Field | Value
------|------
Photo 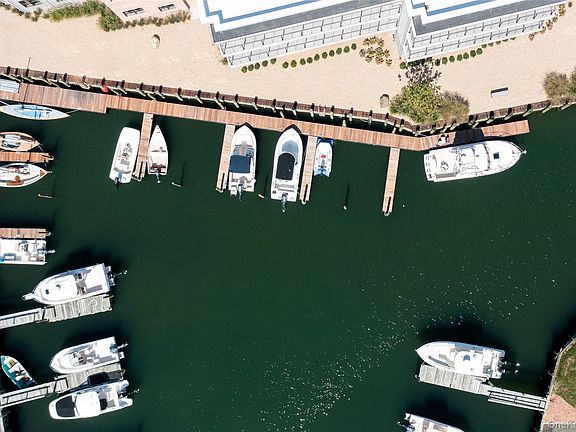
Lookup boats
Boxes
[23,262,119,309]
[0,132,51,158]
[422,125,529,186]
[416,341,517,384]
[271,121,307,213]
[395,411,462,432]
[312,138,334,179]
[0,97,79,121]
[2,356,40,390]
[46,376,134,422]
[0,161,54,188]
[144,119,168,183]
[221,119,259,204]
[110,127,141,191]
[47,334,128,379]
[0,233,55,265]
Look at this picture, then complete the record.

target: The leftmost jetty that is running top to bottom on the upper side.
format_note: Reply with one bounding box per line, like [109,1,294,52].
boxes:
[129,115,154,183]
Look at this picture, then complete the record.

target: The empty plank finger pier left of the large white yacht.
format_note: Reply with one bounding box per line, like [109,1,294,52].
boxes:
[383,148,400,216]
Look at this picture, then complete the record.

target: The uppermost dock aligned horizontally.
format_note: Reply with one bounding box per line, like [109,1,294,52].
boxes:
[0,75,529,151]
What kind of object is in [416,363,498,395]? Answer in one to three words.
pier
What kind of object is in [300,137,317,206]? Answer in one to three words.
pier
